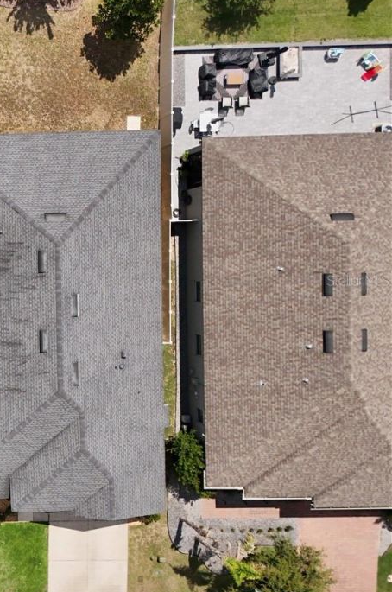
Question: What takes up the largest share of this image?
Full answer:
What you mostly see from above here is buildings.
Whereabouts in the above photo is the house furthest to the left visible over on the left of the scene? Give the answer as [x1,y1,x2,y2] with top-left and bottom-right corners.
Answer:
[0,130,168,521]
